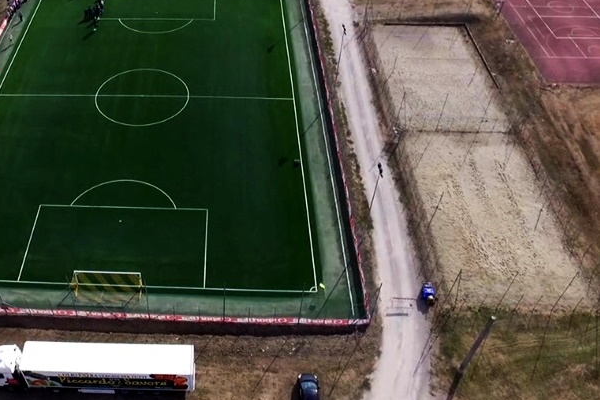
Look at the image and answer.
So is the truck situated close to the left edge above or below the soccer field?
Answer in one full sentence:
Looking at the photo, you'll find the truck situated close to the left edge below the soccer field.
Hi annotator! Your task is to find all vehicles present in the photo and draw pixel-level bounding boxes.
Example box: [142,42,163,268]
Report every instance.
[295,374,323,400]
[0,343,194,396]
[418,283,440,309]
